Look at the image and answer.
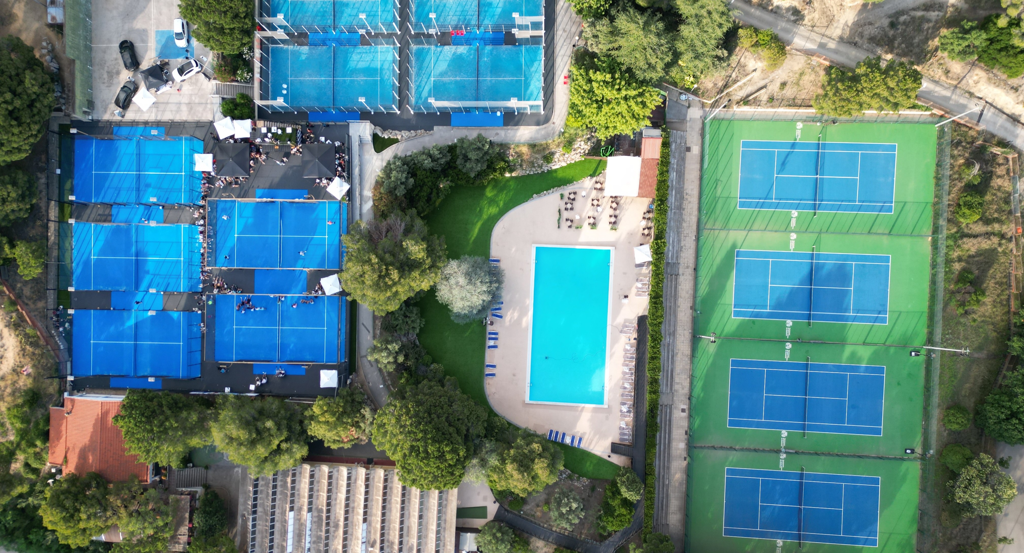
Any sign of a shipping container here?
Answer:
No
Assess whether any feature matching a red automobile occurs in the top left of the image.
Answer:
No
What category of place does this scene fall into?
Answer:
sports ground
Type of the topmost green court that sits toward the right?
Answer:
tennis court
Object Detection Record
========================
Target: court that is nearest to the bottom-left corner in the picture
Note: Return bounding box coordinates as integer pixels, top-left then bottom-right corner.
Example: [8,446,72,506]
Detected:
[54,310,202,382]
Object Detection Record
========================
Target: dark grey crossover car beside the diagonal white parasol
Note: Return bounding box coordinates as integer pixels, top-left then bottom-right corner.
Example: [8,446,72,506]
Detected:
[113,80,134,109]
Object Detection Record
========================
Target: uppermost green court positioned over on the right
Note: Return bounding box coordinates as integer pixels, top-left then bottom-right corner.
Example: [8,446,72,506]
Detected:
[700,120,937,235]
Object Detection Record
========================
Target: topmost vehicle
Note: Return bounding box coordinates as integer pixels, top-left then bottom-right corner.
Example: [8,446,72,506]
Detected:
[171,16,188,47]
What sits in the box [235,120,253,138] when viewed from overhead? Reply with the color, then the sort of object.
white umbrella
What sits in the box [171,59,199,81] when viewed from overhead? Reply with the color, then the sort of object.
white car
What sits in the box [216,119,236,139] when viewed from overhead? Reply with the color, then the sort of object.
white umbrella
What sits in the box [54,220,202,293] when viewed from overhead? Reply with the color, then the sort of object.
blue sports court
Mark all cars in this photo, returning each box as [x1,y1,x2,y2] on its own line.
[171,59,199,81]
[113,80,134,109]
[117,39,137,70]
[171,16,188,47]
